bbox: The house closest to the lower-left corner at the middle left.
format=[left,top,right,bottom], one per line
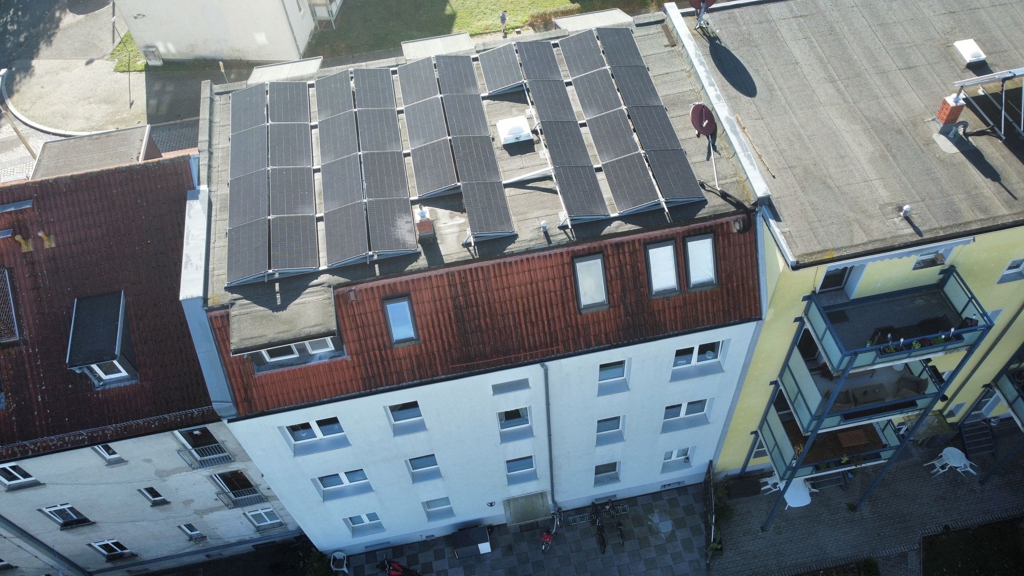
[0,121,306,576]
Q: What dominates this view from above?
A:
buildings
